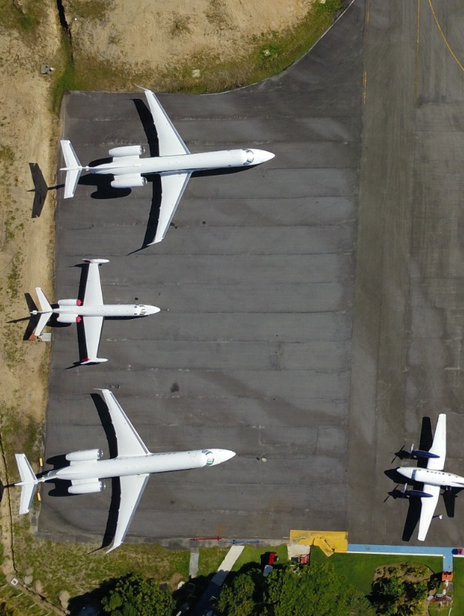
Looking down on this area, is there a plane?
Yes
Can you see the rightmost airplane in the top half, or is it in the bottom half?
bottom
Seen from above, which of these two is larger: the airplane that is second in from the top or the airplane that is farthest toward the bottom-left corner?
the airplane that is farthest toward the bottom-left corner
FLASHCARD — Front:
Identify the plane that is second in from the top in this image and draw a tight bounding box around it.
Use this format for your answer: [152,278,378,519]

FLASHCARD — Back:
[32,261,160,361]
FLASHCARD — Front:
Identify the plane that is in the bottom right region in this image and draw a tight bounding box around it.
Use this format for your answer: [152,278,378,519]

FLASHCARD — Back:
[396,412,464,540]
